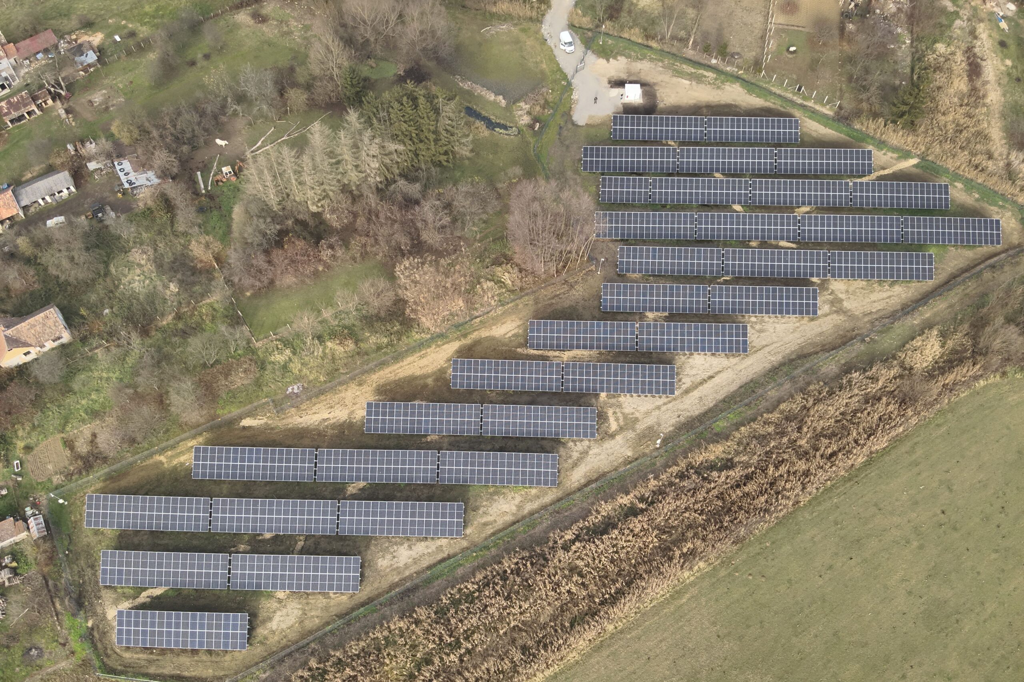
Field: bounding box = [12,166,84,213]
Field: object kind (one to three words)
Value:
barn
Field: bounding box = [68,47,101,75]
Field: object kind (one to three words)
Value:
shed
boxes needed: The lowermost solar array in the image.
[113,610,250,651]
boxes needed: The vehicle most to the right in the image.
[562,30,577,52]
